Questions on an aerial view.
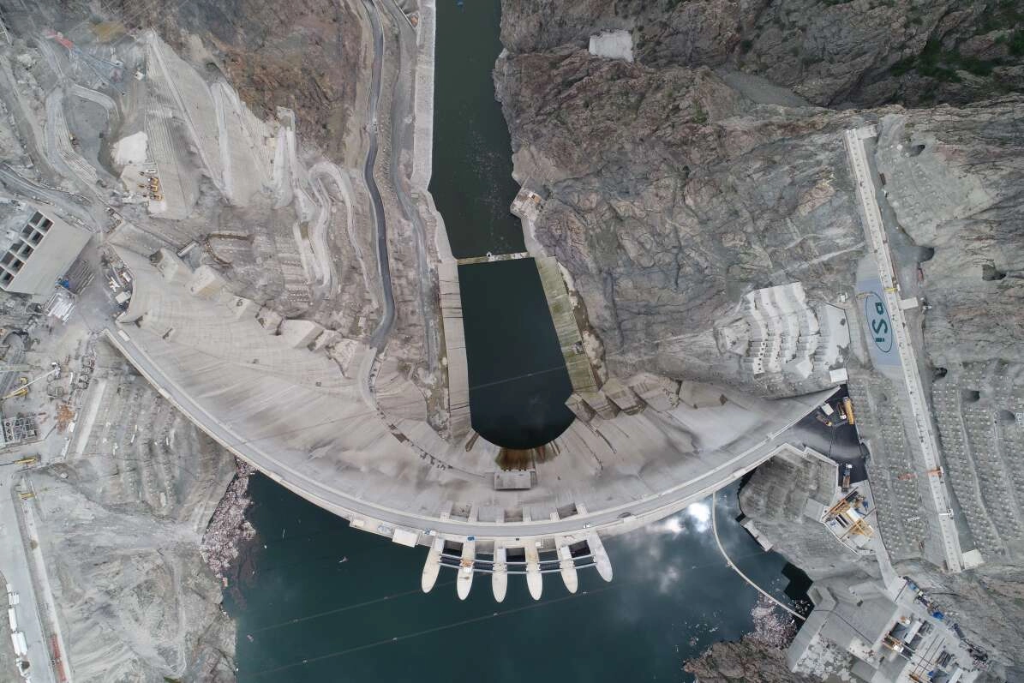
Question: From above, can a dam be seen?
Yes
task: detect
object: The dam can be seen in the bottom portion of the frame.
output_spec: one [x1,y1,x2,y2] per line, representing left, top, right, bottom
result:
[105,245,841,602]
